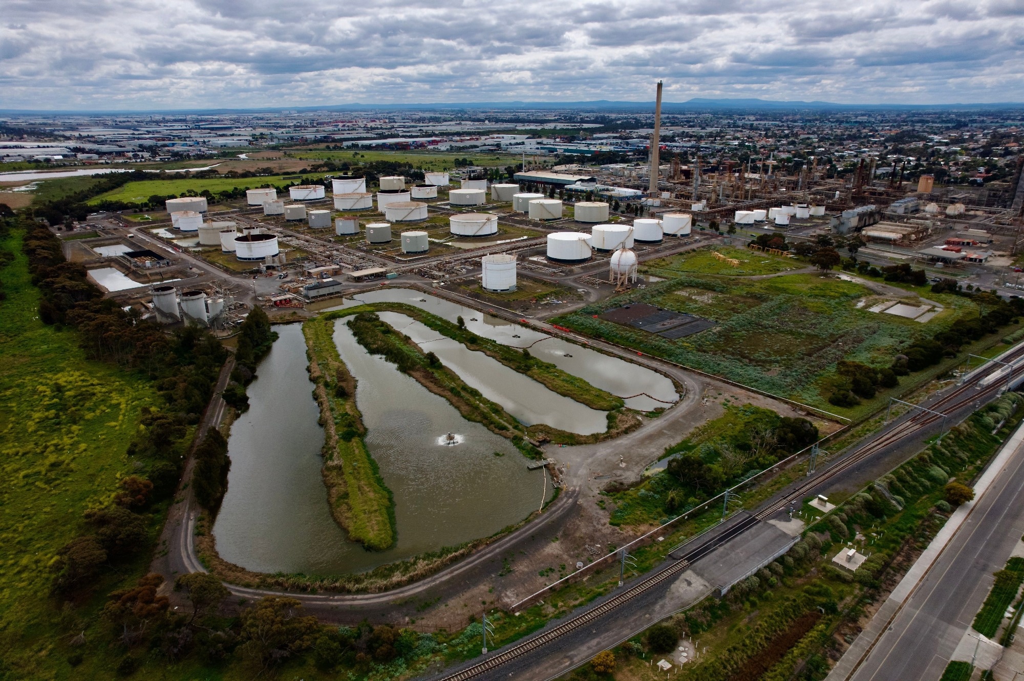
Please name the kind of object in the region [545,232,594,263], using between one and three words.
storage tank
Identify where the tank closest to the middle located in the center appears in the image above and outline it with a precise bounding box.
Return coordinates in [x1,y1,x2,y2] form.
[479,254,519,293]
